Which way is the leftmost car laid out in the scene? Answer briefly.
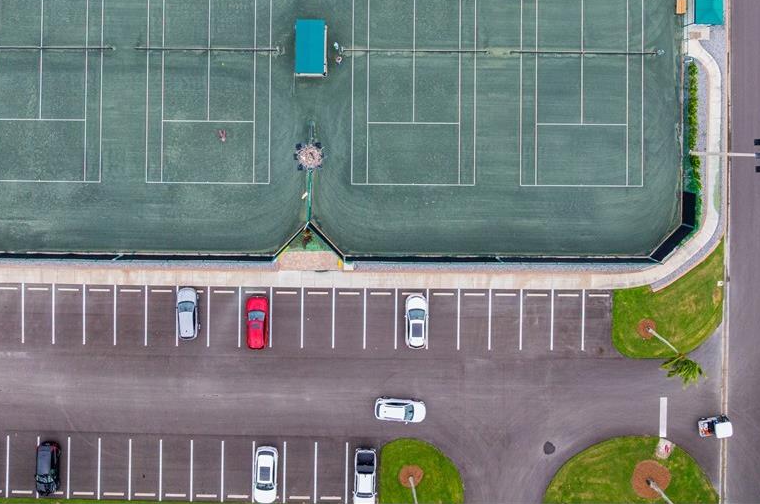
up and down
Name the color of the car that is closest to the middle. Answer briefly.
white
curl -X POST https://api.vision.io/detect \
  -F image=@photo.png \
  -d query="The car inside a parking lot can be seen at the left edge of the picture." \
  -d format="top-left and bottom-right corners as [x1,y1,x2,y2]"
[35,438,63,494]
